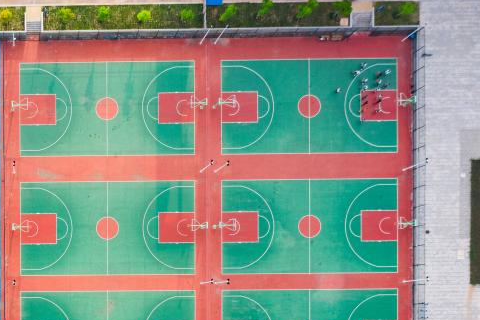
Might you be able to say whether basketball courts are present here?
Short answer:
Yes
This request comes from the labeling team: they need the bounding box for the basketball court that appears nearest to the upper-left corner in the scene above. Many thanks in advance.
[20,60,195,157]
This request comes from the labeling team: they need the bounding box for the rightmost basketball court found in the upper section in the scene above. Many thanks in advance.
[221,58,398,154]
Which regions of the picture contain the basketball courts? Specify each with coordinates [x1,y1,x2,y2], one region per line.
[221,289,398,320]
[20,60,195,157]
[20,290,196,320]
[20,179,196,276]
[221,58,398,154]
[221,178,398,274]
